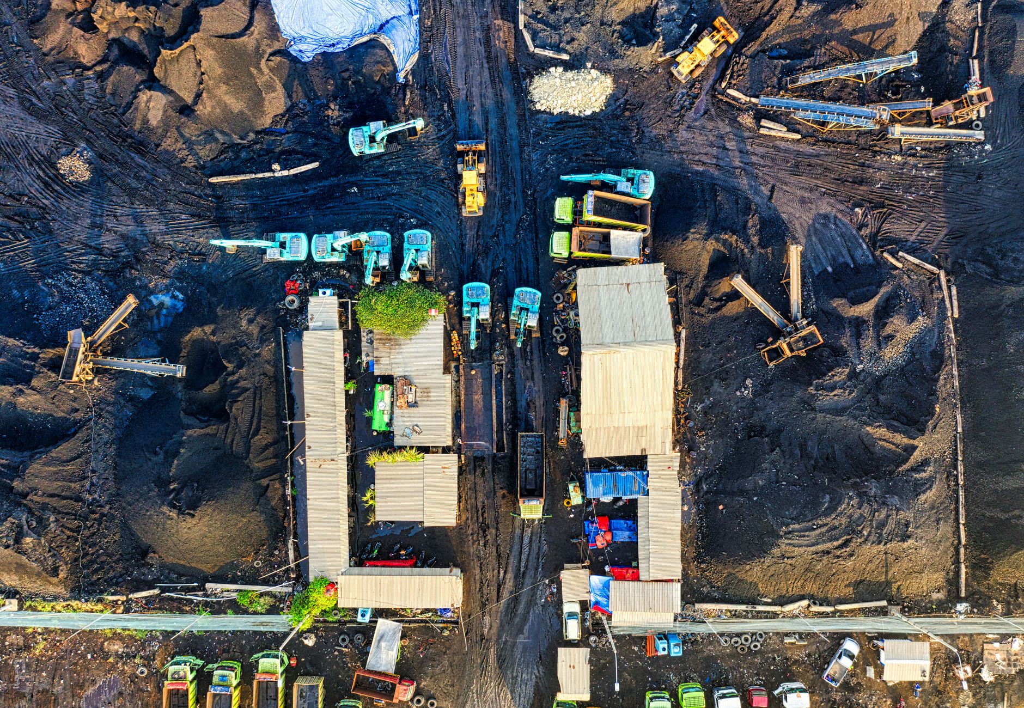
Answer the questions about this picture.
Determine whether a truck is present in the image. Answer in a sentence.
Yes, the frame does contain a truck.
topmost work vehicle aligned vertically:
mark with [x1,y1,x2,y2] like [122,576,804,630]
[457,143,488,217]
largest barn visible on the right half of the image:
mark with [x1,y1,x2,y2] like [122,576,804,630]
[575,263,676,457]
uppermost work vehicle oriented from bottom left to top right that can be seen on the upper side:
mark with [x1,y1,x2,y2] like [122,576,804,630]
[671,15,731,89]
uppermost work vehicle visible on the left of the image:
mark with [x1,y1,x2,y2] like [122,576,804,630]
[350,114,422,163]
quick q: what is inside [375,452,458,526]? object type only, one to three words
house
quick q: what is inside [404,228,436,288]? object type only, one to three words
work vehicle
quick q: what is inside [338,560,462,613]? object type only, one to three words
shed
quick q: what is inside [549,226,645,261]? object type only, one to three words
truck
